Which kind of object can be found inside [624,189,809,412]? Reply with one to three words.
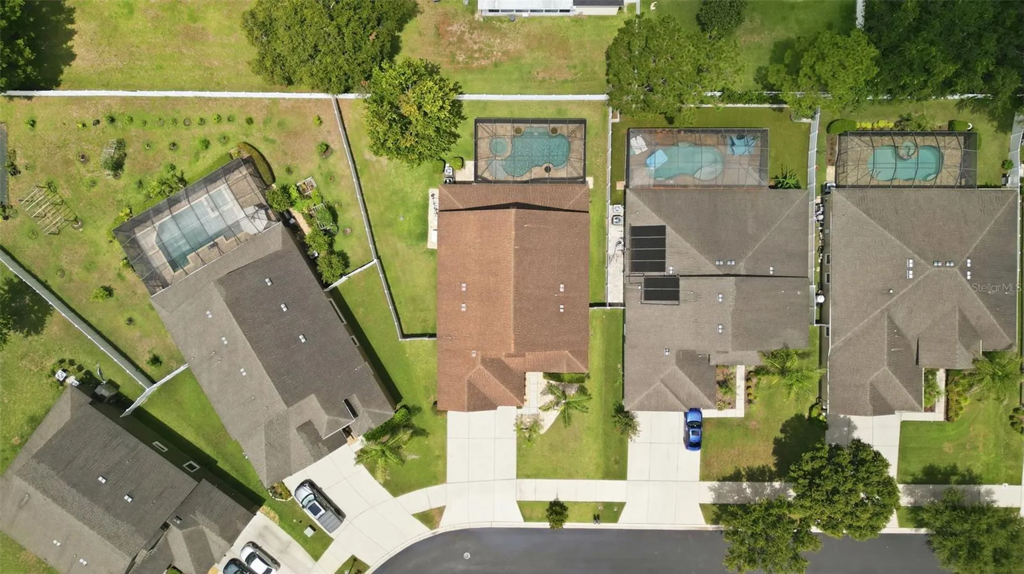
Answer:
house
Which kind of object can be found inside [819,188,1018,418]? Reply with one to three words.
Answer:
house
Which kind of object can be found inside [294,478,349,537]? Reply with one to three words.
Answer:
truck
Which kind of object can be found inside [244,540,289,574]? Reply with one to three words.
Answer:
car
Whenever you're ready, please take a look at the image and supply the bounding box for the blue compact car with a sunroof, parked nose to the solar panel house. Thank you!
[680,410,705,452]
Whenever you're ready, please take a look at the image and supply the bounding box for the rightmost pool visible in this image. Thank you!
[864,138,947,184]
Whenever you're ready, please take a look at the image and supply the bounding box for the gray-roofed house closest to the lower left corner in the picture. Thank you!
[0,386,259,574]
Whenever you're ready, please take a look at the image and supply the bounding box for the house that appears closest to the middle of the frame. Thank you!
[437,184,589,414]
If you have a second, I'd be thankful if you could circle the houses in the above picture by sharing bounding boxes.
[819,188,1018,418]
[624,189,809,412]
[0,386,259,574]
[437,184,589,414]
[479,0,623,19]
[153,219,395,491]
